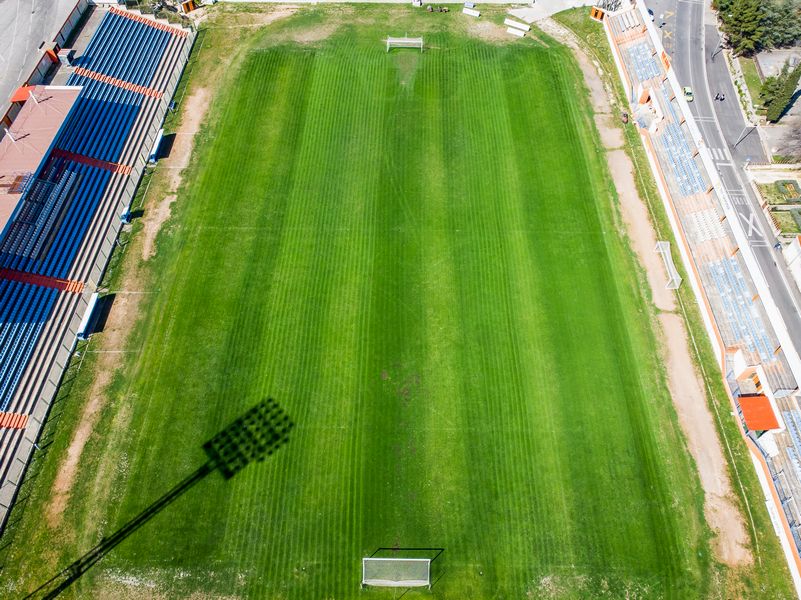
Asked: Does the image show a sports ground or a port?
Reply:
sports ground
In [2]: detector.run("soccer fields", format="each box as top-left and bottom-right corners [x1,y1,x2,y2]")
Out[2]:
[81,41,722,600]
